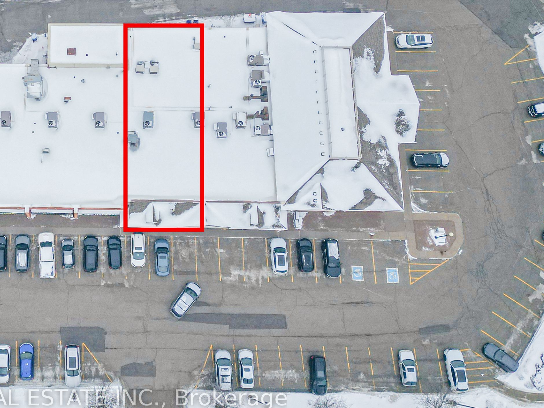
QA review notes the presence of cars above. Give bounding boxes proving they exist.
[170,284,199,318]
[410,150,449,168]
[524,100,544,118]
[270,238,288,275]
[82,236,100,273]
[63,345,82,387]
[215,350,234,392]
[129,233,147,268]
[443,348,470,393]
[237,350,256,389]
[398,351,418,387]
[309,356,329,395]
[13,236,31,273]
[154,239,171,277]
[0,345,12,383]
[0,236,9,272]
[106,236,124,269]
[322,239,344,278]
[393,31,435,50]
[480,342,520,376]
[61,239,77,269]
[17,343,36,381]
[297,239,315,273]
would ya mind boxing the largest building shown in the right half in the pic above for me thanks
[260,11,409,212]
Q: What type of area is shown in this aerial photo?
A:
parking lot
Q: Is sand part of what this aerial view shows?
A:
No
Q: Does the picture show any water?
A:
No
